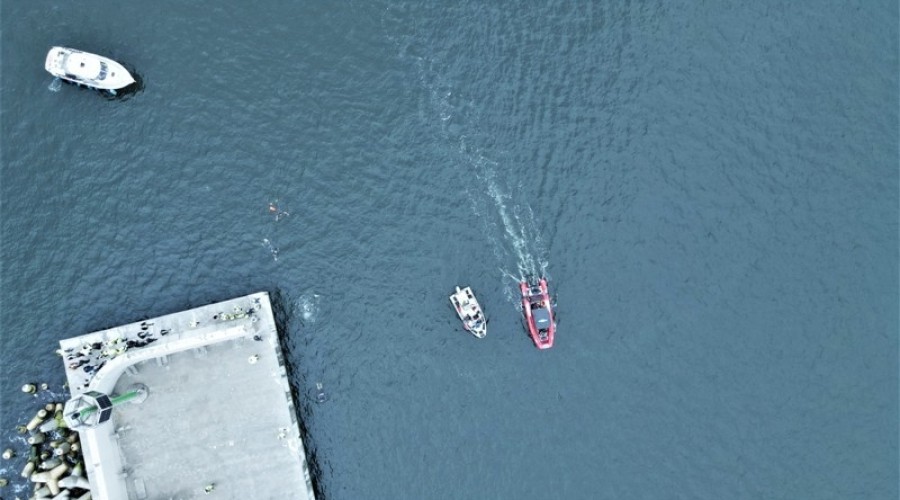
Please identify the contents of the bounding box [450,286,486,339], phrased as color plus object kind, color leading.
white boat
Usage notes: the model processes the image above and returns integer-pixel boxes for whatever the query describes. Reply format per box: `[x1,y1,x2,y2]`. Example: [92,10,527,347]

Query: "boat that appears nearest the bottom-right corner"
[520,277,554,349]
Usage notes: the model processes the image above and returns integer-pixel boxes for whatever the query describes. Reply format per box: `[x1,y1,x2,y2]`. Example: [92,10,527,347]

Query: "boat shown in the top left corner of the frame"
[45,47,134,94]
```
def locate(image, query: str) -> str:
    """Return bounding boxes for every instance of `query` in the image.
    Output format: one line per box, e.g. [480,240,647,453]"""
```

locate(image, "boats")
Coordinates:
[450,286,486,339]
[45,47,134,94]
[520,277,554,349]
